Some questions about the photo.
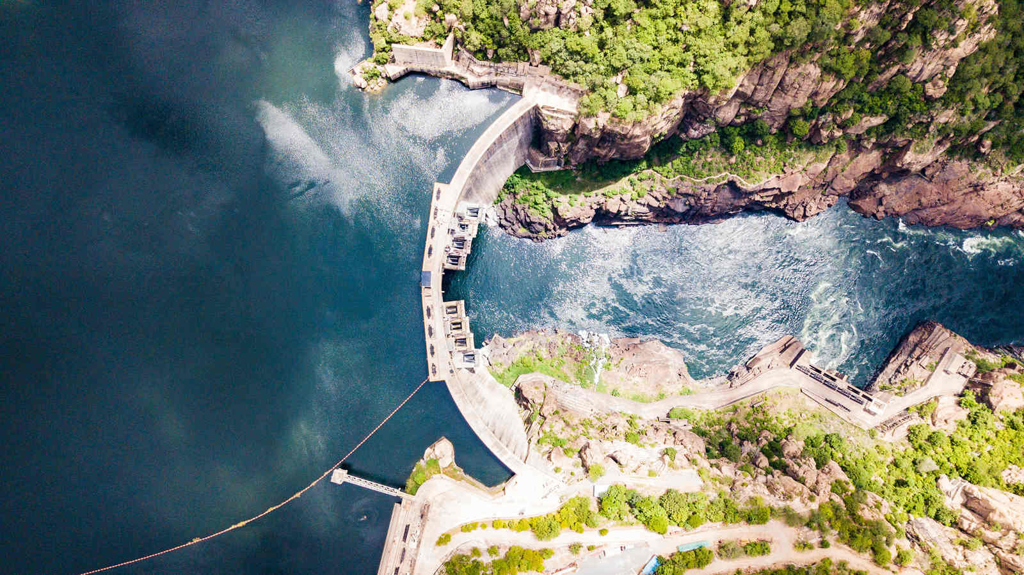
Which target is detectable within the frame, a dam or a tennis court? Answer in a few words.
dam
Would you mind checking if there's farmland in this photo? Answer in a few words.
No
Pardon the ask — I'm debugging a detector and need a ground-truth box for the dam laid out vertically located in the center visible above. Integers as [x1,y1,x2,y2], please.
[422,97,539,475]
